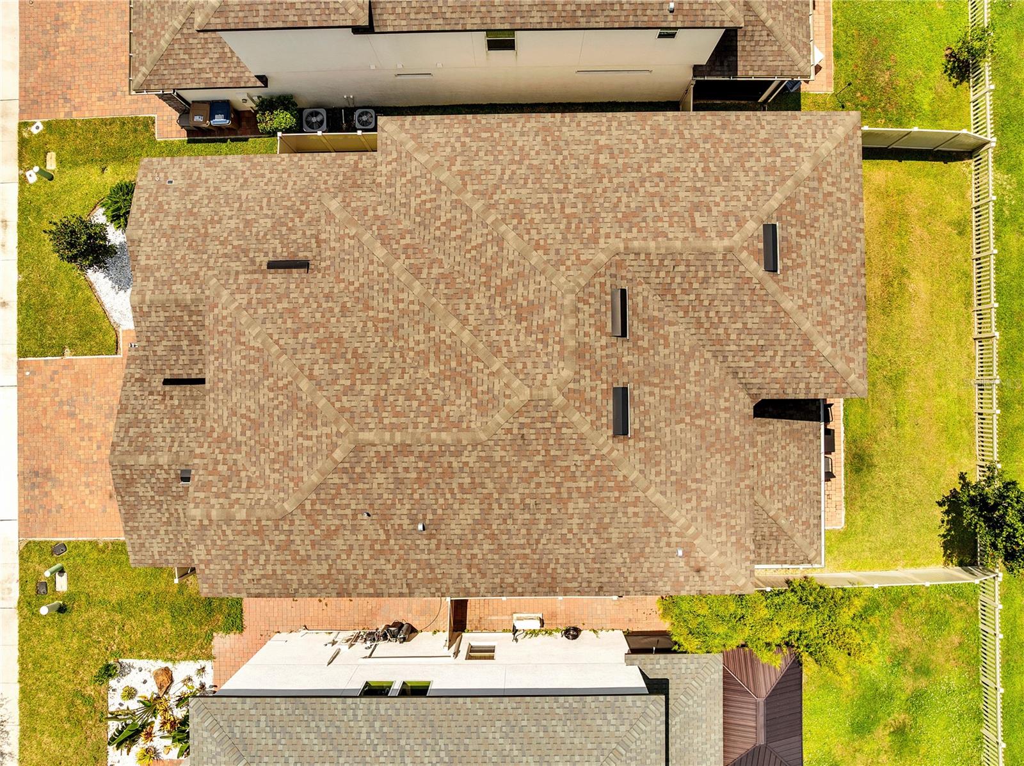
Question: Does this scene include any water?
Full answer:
No, the picture contains no water.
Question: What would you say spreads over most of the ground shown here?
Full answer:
Most of the picture is covered by buildings.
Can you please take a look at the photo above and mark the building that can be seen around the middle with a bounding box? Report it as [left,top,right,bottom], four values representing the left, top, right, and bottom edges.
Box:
[108,111,865,597]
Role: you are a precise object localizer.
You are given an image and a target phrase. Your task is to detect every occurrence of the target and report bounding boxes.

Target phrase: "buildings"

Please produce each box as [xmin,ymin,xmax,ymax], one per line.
[108,111,865,597]
[190,631,726,766]
[127,0,814,108]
